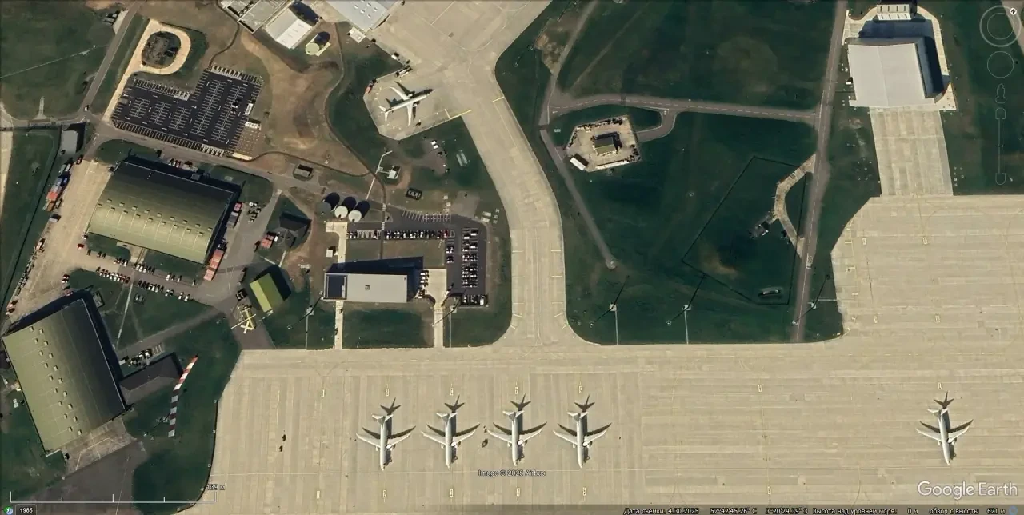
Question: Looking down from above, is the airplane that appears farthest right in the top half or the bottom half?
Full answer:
You can find the airplane that appears farthest right in the bottom half.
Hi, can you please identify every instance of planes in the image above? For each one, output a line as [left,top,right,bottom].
[355,413,412,470]
[375,86,431,126]
[420,411,477,468]
[916,406,972,464]
[551,410,608,467]
[487,409,543,466]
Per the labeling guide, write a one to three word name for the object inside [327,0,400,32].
hangar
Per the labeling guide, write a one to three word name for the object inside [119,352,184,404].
building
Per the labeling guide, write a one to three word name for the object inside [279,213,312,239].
shed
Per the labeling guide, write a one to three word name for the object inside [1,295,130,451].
hangar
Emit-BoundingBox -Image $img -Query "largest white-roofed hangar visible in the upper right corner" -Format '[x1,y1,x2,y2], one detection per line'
[848,37,940,106]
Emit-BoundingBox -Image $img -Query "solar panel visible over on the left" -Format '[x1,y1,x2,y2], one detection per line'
[326,277,345,298]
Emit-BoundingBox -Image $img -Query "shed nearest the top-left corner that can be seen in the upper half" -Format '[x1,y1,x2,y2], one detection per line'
[60,128,82,154]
